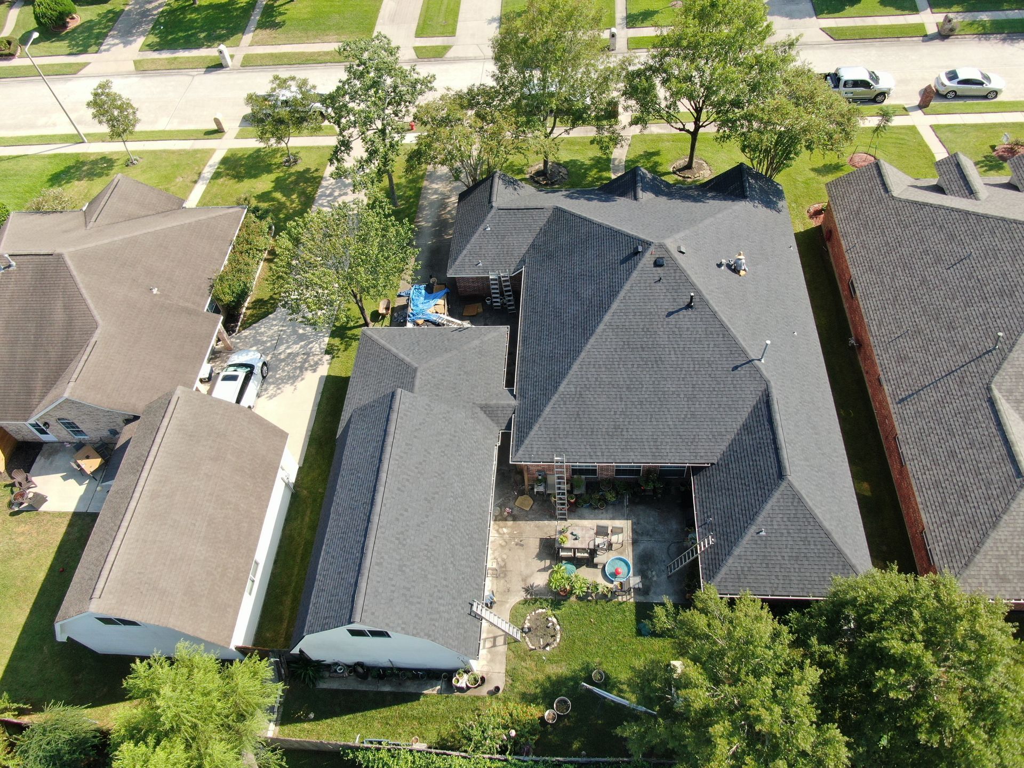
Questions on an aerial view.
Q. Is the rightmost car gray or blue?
gray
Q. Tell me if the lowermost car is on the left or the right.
left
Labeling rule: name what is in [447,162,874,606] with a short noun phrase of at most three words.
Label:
house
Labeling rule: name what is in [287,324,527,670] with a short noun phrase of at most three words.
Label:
building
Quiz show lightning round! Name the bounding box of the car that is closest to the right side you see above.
[930,71,1007,102]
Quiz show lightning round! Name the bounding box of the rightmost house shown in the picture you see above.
[820,151,1024,606]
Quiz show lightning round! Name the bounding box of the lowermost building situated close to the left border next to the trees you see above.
[50,386,300,660]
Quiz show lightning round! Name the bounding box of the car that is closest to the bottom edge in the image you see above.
[210,352,264,411]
